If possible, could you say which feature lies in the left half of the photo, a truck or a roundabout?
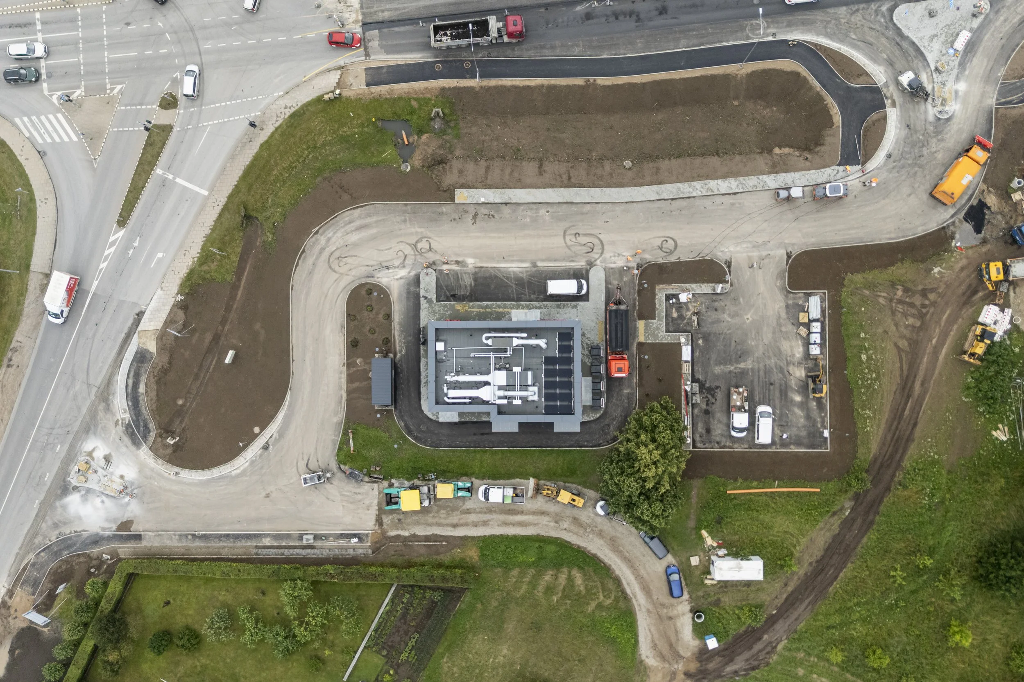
truck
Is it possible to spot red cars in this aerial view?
Yes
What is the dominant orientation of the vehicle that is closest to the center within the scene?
from left to right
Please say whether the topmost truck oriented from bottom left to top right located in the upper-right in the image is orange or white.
orange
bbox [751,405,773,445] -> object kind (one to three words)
vehicle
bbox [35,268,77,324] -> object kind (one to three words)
truck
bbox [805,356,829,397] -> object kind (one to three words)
work vehicle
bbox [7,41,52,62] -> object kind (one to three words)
car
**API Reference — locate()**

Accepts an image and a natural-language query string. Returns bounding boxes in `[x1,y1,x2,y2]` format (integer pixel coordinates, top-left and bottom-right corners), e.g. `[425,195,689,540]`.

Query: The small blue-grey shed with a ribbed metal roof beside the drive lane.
[372,358,394,404]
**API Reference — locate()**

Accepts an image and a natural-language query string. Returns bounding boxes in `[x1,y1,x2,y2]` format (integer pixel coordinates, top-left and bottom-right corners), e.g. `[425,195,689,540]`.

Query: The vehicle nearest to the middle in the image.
[547,277,587,297]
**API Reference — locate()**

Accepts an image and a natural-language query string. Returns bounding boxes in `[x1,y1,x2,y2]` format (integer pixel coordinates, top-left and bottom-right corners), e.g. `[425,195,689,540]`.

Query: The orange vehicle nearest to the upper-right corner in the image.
[921,136,992,214]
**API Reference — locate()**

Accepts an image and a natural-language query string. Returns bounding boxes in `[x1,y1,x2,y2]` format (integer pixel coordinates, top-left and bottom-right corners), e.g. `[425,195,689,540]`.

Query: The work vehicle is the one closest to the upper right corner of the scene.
[891,69,932,108]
